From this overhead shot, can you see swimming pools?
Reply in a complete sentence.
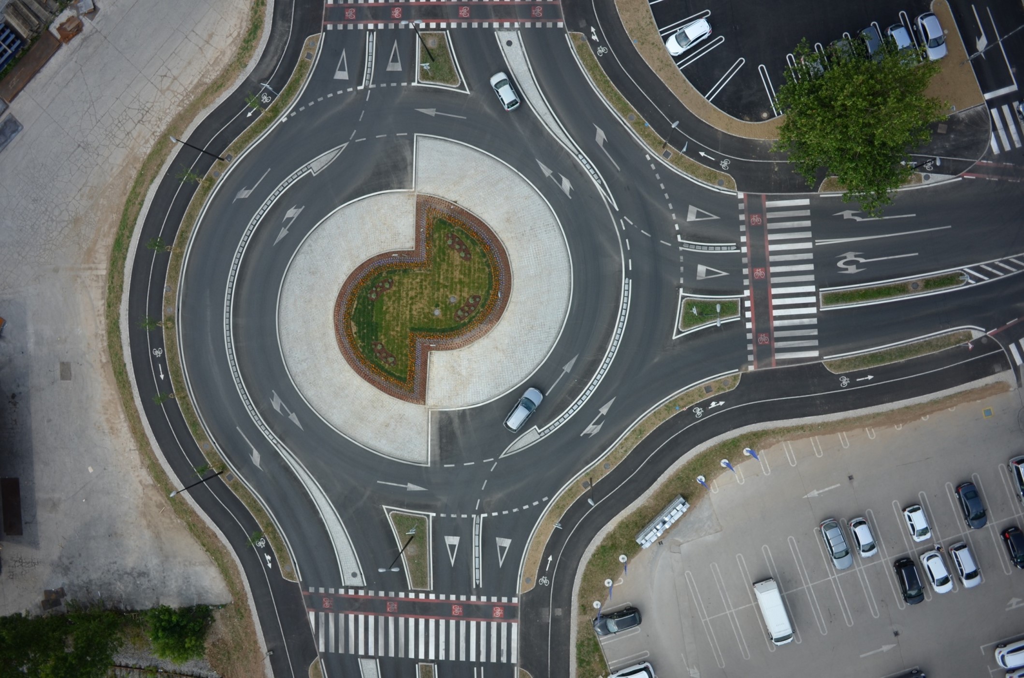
No, I can't see a single swimming pool in this photo.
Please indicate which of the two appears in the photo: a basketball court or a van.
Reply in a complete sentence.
The one in the frame is a van.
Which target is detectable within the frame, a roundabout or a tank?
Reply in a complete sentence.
The image shows a roundabout.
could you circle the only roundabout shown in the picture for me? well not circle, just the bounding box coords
[223,30,631,587]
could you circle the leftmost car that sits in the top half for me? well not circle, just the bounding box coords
[489,69,522,115]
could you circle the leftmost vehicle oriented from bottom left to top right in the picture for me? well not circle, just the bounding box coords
[503,387,544,434]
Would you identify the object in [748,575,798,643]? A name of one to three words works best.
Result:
van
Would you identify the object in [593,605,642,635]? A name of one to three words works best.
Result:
car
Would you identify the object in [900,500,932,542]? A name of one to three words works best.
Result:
car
